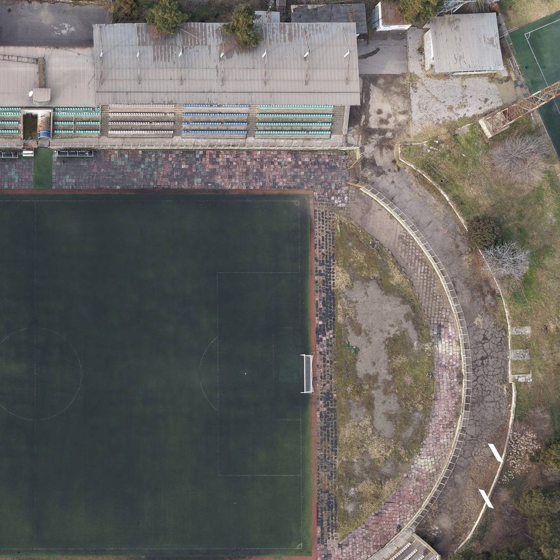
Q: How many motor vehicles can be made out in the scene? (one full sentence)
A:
The count of motor vehicles is 0.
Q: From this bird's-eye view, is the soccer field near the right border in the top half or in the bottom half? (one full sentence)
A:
The soccer field near the right border is in the top half of the image.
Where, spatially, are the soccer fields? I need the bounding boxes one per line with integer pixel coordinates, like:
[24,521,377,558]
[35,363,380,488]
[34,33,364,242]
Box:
[507,7,560,158]
[0,189,318,560]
